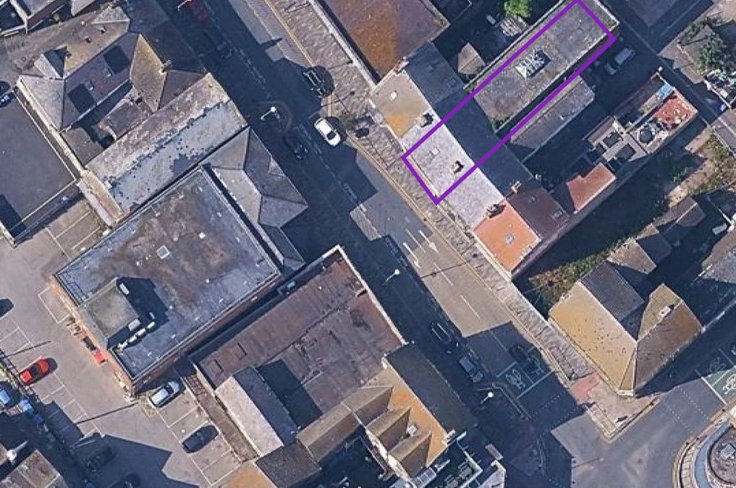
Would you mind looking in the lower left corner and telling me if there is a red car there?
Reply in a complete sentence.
Yes, you'll find a red car in the lower left corner.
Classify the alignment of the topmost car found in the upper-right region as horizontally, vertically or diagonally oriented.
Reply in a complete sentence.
In this picture, the topmost car found in the upper-right region is oriented diagonally.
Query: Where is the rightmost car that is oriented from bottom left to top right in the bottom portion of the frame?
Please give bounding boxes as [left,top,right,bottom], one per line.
[180,422,218,454]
